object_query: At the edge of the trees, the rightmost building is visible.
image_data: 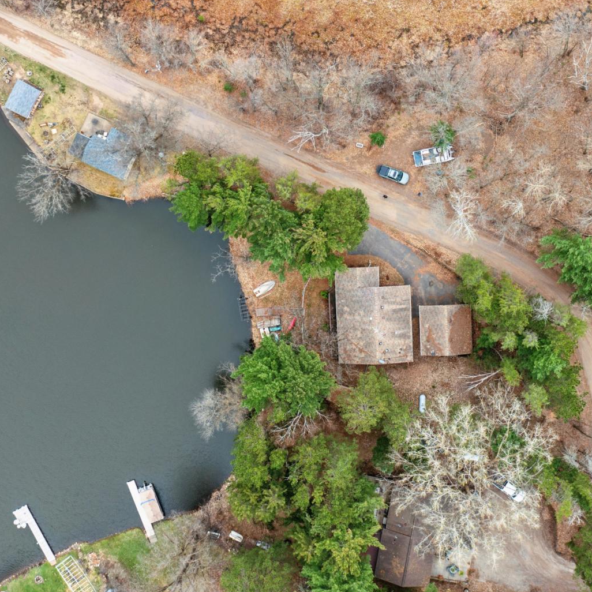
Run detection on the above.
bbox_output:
[419,304,472,356]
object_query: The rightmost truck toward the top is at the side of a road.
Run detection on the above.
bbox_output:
[374,163,411,186]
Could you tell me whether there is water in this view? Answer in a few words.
Yes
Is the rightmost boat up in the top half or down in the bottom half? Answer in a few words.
top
